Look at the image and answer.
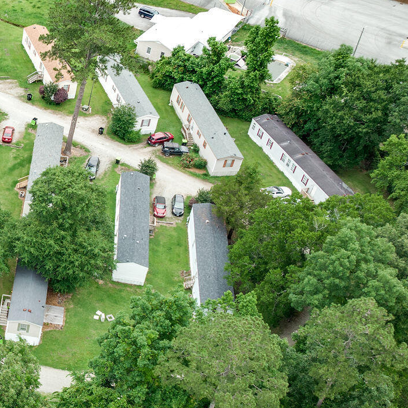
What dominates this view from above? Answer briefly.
trees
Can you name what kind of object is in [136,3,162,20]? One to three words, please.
car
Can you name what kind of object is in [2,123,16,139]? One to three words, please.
vehicle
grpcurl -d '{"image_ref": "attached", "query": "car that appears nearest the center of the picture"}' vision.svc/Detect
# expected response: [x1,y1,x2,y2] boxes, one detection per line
[172,192,186,212]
